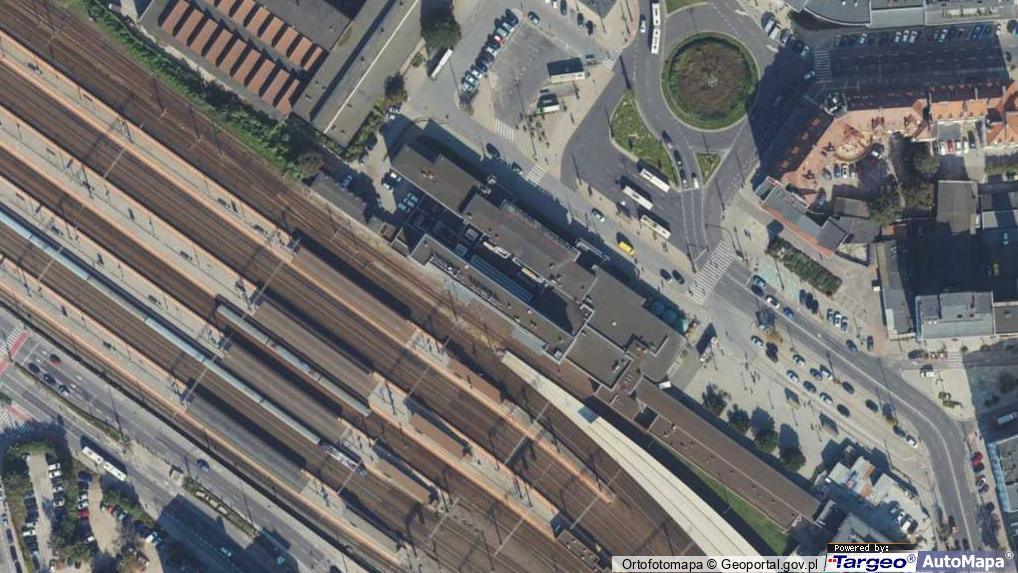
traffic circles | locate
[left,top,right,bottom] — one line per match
[661,32,761,130]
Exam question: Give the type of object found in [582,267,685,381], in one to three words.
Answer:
building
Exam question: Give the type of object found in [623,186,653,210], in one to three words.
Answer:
bus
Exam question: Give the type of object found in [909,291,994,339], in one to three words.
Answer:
building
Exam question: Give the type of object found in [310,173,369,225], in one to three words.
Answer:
shed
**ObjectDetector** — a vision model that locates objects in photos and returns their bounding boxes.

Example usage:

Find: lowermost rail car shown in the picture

[324,445,365,477]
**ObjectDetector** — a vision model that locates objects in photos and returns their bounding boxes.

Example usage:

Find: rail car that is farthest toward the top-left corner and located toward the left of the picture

[0,208,34,238]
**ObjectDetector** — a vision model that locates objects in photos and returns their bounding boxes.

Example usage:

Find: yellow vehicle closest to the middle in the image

[619,243,636,256]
